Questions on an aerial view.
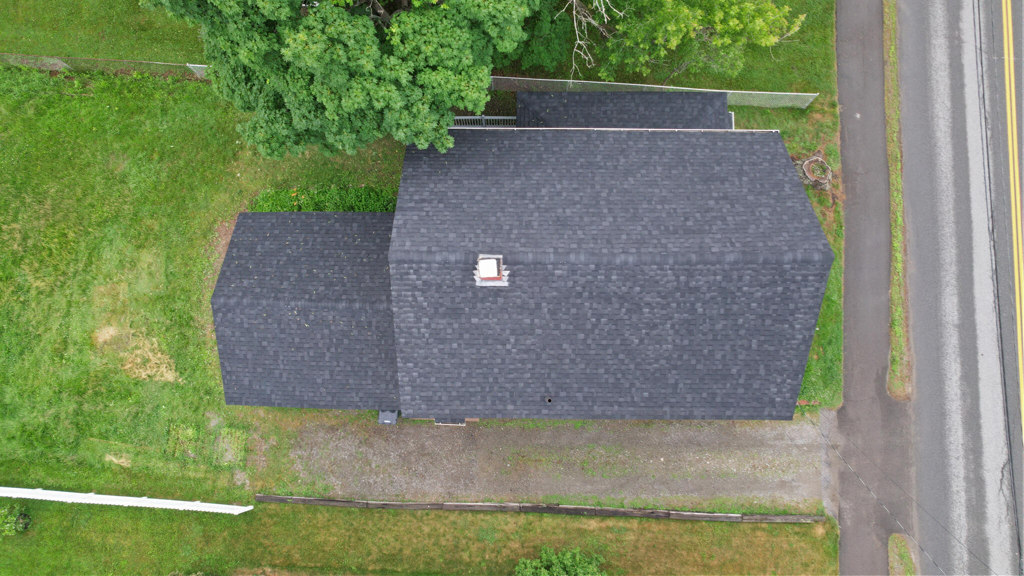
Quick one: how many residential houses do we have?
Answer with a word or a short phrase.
1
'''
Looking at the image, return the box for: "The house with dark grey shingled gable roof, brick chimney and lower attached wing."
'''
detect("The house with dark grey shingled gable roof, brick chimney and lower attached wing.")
[212,90,834,427]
